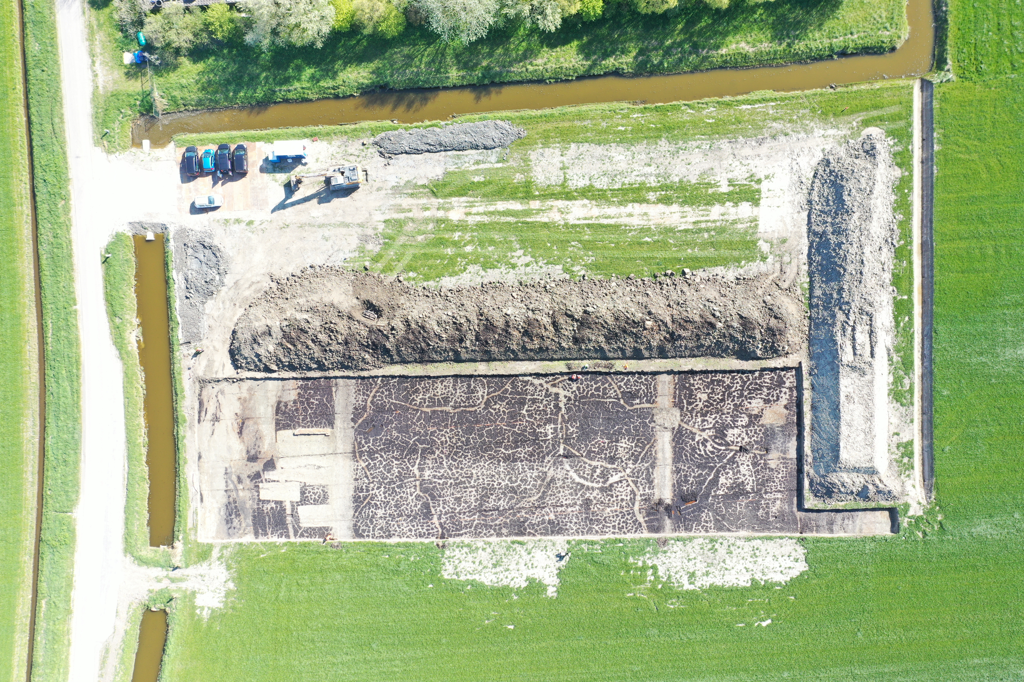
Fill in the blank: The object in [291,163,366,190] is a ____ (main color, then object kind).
white work vehicle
